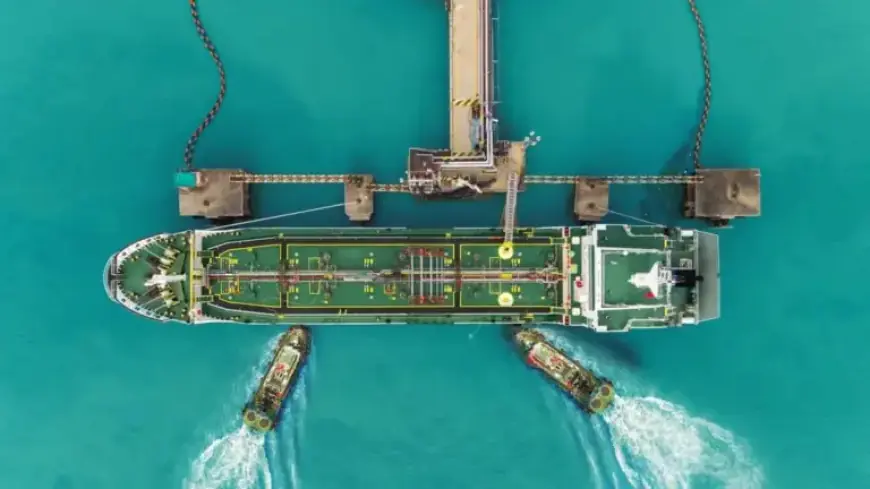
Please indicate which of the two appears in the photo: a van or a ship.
ship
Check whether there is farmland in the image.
No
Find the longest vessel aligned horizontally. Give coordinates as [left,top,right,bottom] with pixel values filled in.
[104,223,725,332]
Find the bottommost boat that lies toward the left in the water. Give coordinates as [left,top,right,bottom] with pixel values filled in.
[243,325,310,430]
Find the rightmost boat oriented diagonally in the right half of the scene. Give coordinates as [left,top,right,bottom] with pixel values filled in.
[516,329,615,418]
